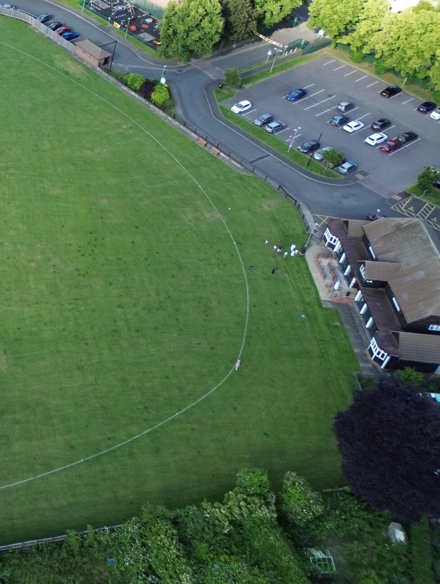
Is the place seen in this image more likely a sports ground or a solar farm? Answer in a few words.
sports ground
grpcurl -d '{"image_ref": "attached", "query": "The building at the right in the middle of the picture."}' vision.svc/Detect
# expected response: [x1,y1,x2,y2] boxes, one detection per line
[329,219,440,378]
